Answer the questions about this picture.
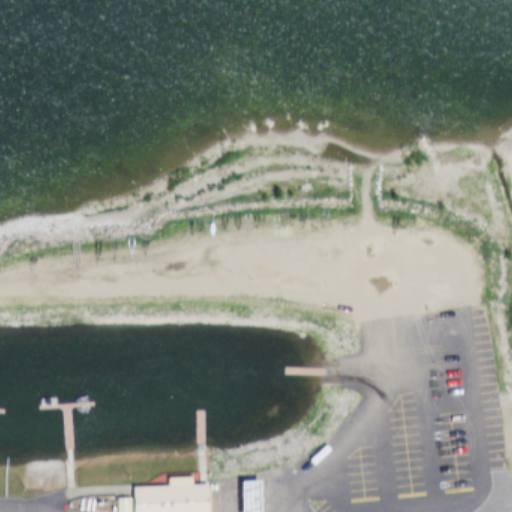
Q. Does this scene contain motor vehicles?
Yes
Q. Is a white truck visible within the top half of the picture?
No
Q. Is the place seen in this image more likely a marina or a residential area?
marina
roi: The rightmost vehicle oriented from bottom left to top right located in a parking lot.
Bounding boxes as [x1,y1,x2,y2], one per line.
[303,446,331,472]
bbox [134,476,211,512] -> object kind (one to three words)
building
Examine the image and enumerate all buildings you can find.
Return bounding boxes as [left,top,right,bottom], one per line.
[243,481,264,512]
[119,498,132,512]
[134,476,211,512]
